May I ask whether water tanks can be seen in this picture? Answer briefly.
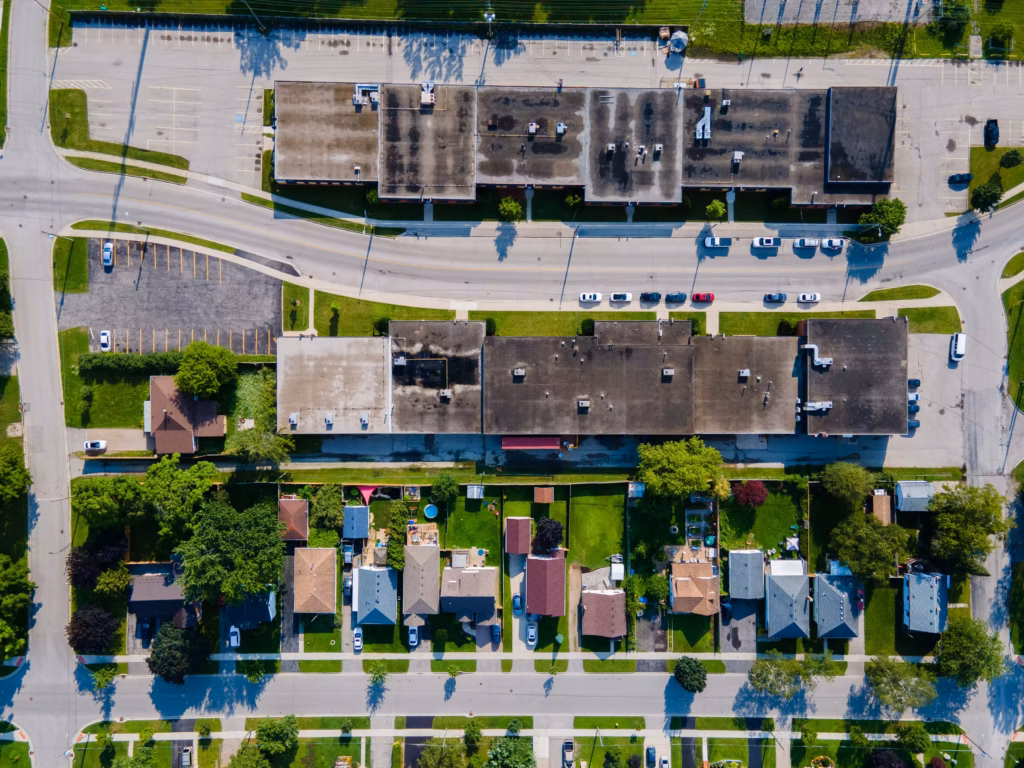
No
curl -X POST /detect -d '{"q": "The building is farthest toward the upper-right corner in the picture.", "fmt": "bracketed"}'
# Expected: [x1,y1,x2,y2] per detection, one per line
[826,86,897,184]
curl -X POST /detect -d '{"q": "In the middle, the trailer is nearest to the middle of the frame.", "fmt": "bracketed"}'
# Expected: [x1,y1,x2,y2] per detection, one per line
[502,436,560,449]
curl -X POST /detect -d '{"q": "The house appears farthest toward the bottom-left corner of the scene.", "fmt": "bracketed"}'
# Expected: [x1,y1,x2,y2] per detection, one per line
[126,562,201,629]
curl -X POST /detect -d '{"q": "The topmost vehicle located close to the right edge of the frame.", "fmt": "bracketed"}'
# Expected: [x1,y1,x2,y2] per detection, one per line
[985,120,998,147]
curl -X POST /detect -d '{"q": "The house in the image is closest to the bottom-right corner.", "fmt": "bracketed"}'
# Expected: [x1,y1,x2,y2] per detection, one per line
[904,572,947,636]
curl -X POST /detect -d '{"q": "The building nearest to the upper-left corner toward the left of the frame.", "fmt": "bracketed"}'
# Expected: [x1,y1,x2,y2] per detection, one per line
[274,81,379,186]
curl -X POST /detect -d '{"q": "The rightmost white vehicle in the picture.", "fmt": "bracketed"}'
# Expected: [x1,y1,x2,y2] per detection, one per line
[952,332,967,361]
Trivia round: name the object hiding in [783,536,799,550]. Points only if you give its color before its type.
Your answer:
white gazebo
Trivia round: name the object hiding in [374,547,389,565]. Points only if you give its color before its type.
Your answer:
gray gazebo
